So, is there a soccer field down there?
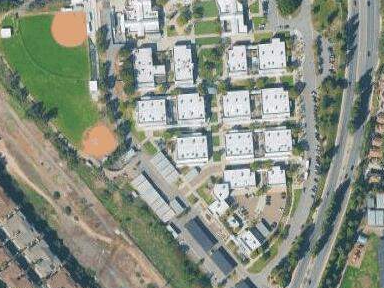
No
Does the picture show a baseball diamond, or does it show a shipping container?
baseball diamond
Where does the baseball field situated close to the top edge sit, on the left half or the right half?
left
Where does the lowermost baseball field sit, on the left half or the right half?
left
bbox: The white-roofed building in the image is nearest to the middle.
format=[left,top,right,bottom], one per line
[176,136,208,165]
